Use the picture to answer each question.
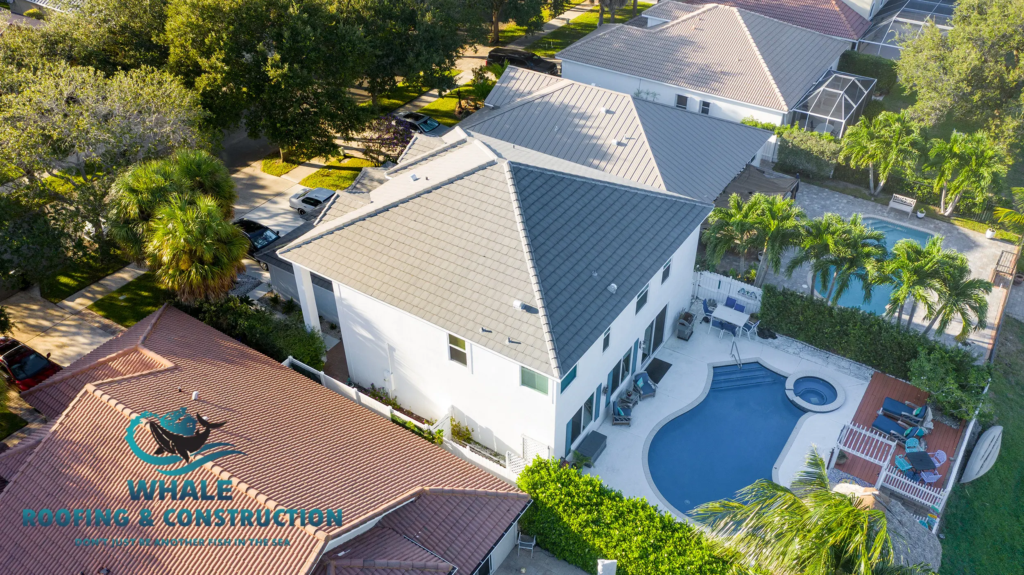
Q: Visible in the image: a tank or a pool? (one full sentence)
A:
Visible in the photo is a pool.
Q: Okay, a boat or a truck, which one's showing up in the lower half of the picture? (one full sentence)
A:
You can see a boat in the lower half of the picture.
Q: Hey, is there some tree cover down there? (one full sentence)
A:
Yes, the picture does contain tree cover.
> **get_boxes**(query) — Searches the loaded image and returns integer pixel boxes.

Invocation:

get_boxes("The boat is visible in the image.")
[962,424,1010,485]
